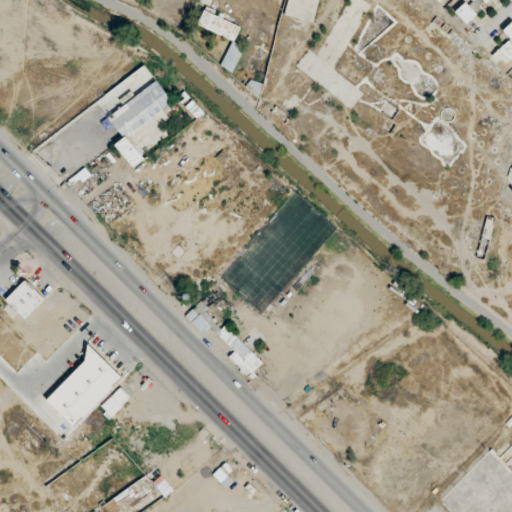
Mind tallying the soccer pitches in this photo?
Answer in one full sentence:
The photo contains exactly 1 soccer pitch.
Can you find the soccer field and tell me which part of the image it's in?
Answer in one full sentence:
Look in the center portion of the view to spot the soccer field.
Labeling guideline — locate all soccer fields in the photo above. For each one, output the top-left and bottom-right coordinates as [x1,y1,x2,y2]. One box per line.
[224,193,336,311]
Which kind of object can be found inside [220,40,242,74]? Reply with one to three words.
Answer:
barn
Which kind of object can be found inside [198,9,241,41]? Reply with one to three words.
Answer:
house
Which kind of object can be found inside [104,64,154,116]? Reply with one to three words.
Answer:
building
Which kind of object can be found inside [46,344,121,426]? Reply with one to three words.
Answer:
building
